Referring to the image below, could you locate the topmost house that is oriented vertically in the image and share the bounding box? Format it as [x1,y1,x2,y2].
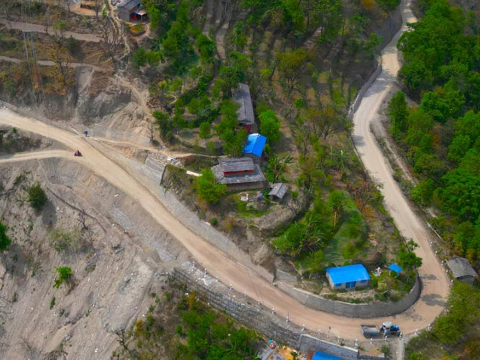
[238,84,255,135]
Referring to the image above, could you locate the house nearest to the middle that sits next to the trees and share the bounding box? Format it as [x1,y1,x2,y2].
[212,161,266,192]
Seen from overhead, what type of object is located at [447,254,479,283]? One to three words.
shed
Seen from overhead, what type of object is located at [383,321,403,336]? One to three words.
work vehicle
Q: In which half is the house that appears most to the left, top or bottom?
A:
top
